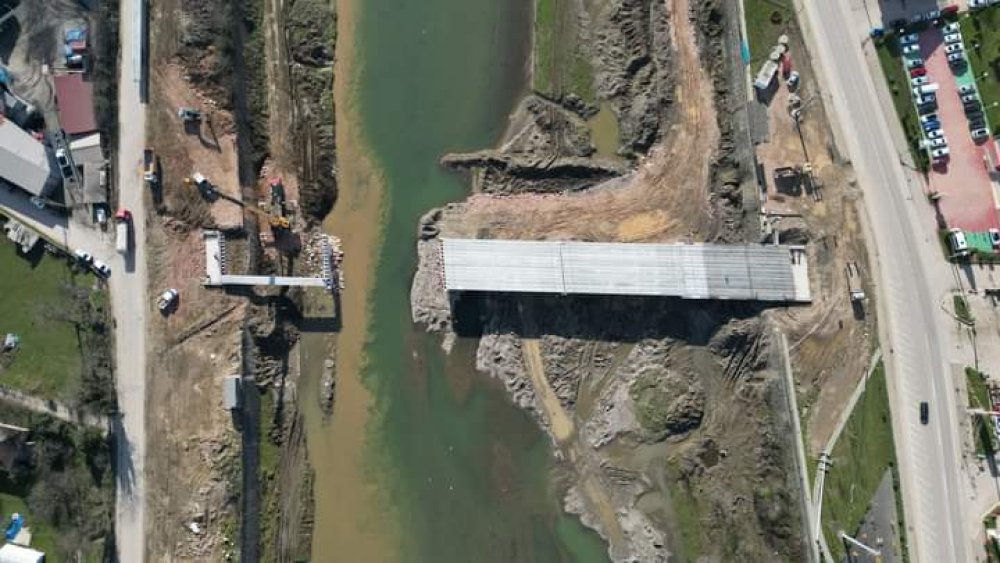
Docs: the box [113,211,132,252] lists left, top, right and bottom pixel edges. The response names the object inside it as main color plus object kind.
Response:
white vehicle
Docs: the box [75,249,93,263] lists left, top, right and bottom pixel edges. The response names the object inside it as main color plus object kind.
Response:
white car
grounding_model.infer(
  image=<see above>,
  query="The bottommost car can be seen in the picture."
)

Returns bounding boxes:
[917,402,930,422]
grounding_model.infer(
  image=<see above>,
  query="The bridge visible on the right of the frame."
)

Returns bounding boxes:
[439,238,812,303]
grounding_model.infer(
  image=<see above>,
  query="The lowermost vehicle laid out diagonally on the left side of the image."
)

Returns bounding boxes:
[157,291,180,309]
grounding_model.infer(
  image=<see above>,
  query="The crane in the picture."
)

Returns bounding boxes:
[184,163,281,225]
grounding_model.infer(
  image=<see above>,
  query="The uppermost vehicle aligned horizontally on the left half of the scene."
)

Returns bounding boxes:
[181,107,218,121]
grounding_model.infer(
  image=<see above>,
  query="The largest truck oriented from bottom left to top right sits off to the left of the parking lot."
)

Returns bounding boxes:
[752,57,783,92]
